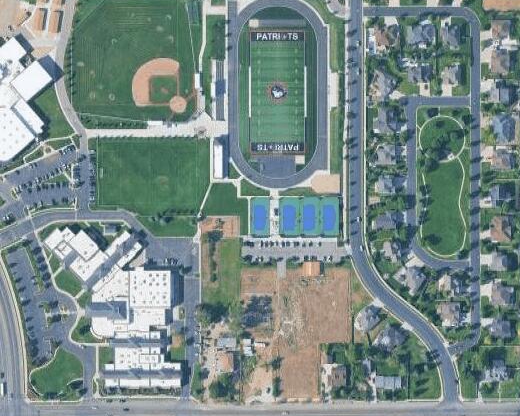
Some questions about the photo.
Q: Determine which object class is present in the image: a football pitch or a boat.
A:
football pitch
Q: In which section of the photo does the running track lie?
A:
top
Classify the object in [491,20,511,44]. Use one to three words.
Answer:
house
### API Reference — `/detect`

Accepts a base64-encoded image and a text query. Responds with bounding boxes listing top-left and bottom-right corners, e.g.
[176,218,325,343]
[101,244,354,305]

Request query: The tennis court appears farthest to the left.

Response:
[250,197,270,236]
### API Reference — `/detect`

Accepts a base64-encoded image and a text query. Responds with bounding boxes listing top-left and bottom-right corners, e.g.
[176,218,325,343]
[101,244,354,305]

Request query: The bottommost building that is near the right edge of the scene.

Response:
[486,362,508,383]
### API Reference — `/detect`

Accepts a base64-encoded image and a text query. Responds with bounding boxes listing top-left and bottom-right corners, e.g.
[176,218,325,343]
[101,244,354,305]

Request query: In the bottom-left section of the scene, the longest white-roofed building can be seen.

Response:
[44,228,181,388]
